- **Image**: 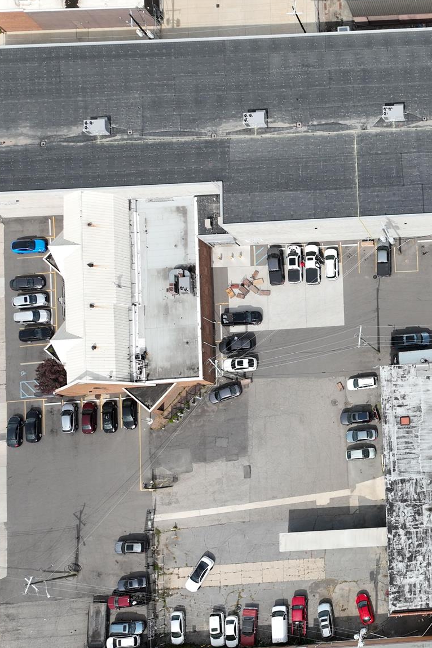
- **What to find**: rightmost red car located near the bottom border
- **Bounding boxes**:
[356,593,374,625]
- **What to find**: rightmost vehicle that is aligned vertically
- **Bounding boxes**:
[374,240,391,278]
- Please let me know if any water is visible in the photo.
No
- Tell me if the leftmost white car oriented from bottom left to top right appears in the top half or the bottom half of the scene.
bottom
